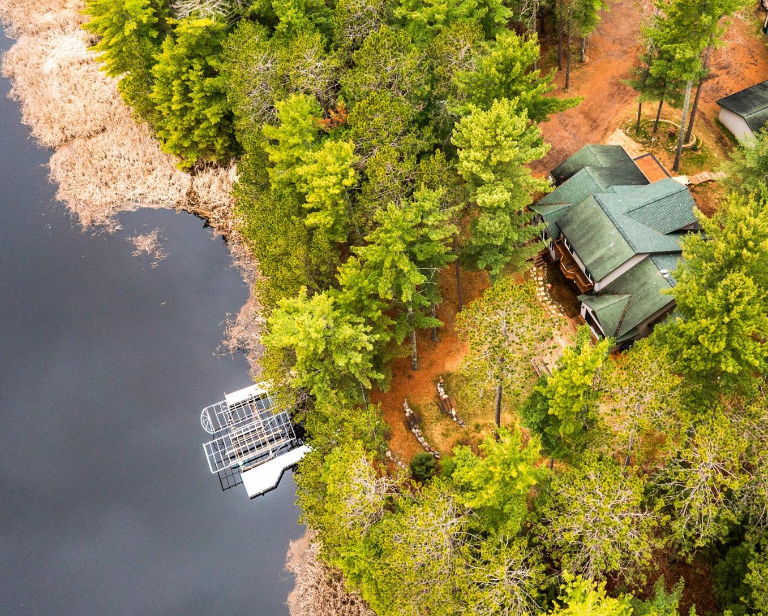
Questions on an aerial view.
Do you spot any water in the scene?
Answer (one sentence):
Yes, water shows up in the scene.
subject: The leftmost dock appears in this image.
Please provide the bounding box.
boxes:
[224,377,278,407]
